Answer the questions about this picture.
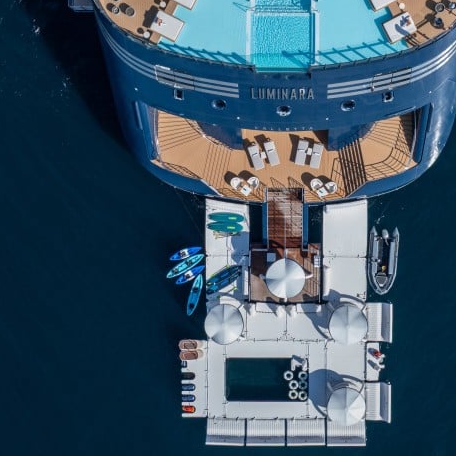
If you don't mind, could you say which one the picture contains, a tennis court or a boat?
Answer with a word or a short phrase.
boat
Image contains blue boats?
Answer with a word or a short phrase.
Yes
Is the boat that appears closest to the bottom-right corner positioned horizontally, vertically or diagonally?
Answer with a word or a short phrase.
vertically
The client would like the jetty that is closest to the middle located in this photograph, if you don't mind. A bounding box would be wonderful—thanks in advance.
[206,200,250,256]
